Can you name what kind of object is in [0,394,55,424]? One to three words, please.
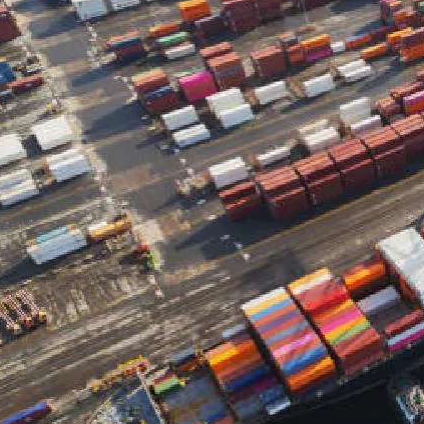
shipping container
